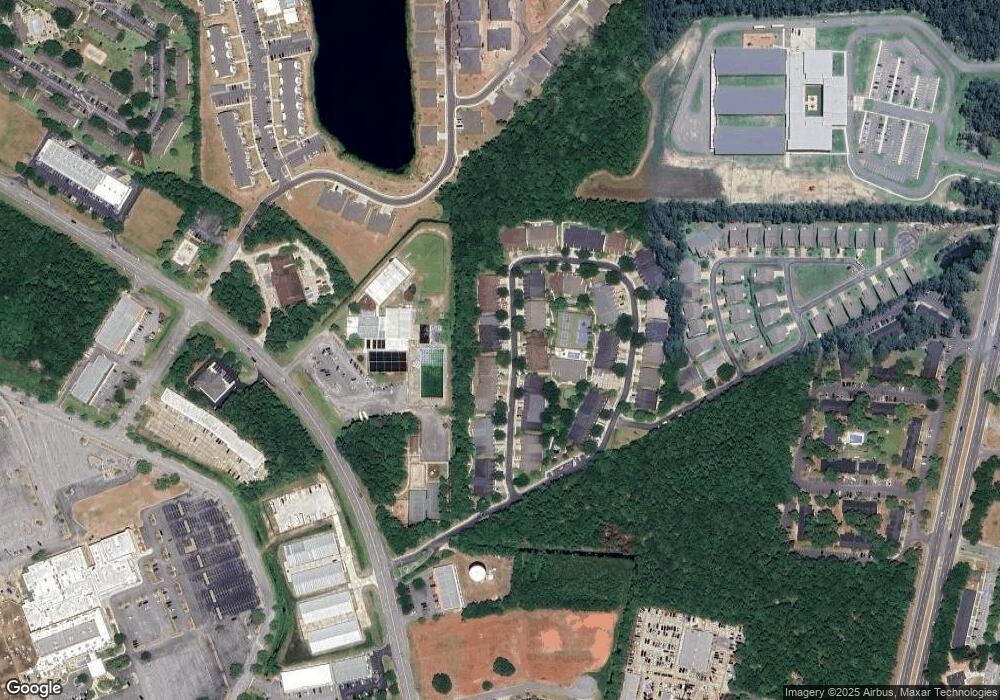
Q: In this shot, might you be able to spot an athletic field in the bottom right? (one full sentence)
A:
No, no athletic field is visible in the bottom right.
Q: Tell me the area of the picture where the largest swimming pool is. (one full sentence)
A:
The largest swimming pool is in the top left part of the image.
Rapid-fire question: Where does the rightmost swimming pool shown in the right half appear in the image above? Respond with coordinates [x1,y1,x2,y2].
[848,432,864,445]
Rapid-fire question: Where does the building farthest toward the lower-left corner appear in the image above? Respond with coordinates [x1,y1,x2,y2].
[19,528,146,678]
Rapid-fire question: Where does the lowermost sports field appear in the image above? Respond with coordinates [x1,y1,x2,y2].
[421,349,443,397]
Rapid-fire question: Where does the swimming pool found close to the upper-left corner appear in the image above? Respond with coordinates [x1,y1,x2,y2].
[17,6,60,42]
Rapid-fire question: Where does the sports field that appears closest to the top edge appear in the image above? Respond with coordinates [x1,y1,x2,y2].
[406,235,445,294]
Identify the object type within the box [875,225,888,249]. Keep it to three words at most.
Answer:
house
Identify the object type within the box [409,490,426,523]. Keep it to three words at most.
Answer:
tennis court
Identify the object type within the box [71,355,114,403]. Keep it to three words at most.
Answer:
building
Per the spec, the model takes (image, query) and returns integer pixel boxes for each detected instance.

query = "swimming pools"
[17,6,60,42]
[555,349,587,359]
[848,432,864,445]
